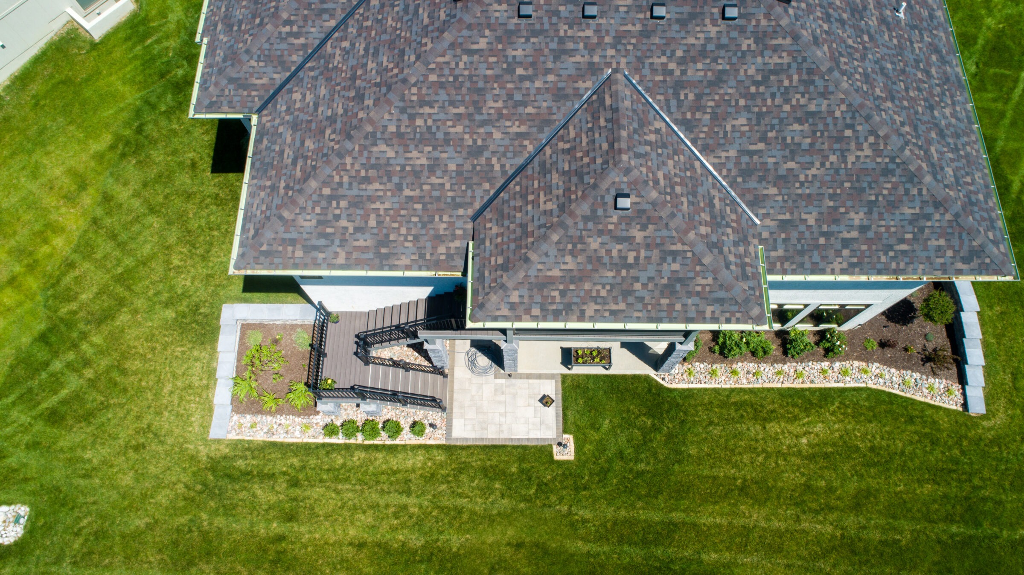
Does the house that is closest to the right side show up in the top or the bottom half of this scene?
top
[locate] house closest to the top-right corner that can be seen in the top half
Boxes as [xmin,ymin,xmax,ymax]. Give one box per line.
[189,0,1019,332]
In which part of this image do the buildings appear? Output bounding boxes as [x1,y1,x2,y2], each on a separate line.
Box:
[0,0,96,81]
[189,0,1019,332]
